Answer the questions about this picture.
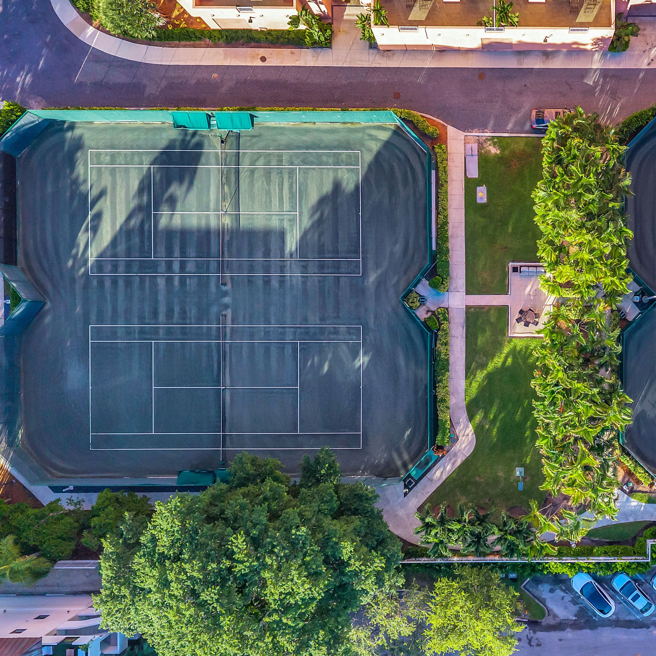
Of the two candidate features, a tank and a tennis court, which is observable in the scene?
tennis court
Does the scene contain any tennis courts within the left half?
Yes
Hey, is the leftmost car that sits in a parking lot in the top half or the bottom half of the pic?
bottom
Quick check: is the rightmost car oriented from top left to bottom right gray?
No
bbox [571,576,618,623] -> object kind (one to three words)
car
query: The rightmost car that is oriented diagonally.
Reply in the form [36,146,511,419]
[611,575,656,623]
